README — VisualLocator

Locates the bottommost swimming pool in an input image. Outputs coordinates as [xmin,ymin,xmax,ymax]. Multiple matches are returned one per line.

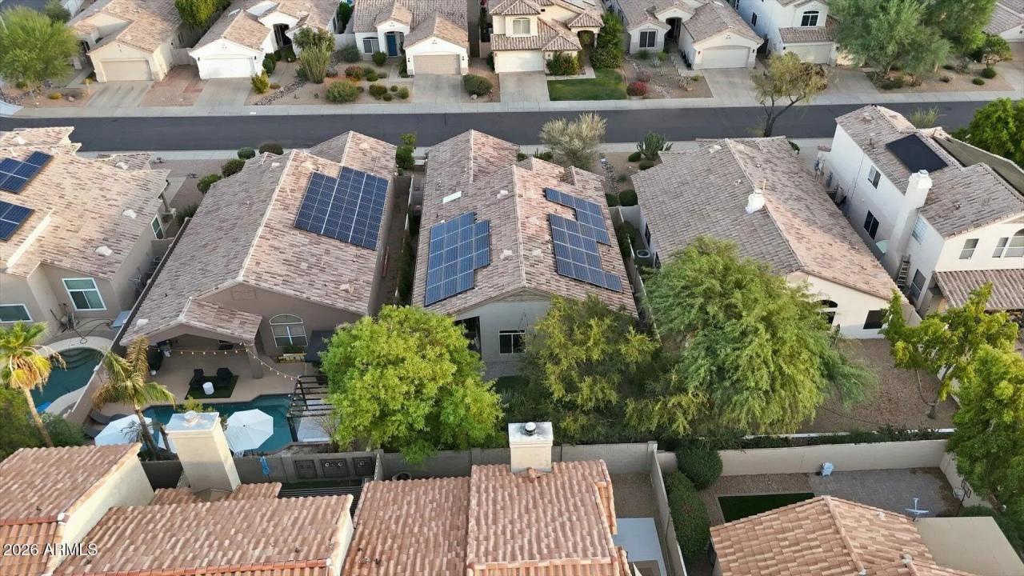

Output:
[133,391,303,456]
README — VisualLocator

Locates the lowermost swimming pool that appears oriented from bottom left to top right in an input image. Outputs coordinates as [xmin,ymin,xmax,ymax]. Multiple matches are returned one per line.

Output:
[0,345,102,427]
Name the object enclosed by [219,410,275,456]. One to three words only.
umbrella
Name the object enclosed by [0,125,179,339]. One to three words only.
house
